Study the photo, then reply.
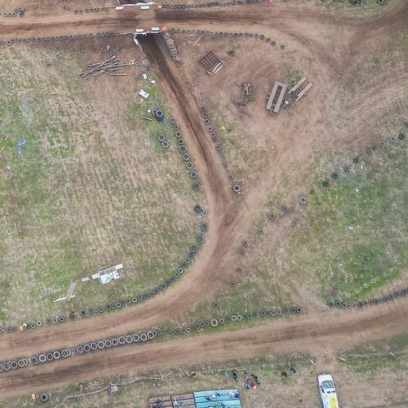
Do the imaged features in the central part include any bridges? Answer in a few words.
No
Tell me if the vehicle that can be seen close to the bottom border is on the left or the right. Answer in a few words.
right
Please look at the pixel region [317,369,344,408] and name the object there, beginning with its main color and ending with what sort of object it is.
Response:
white vehicle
